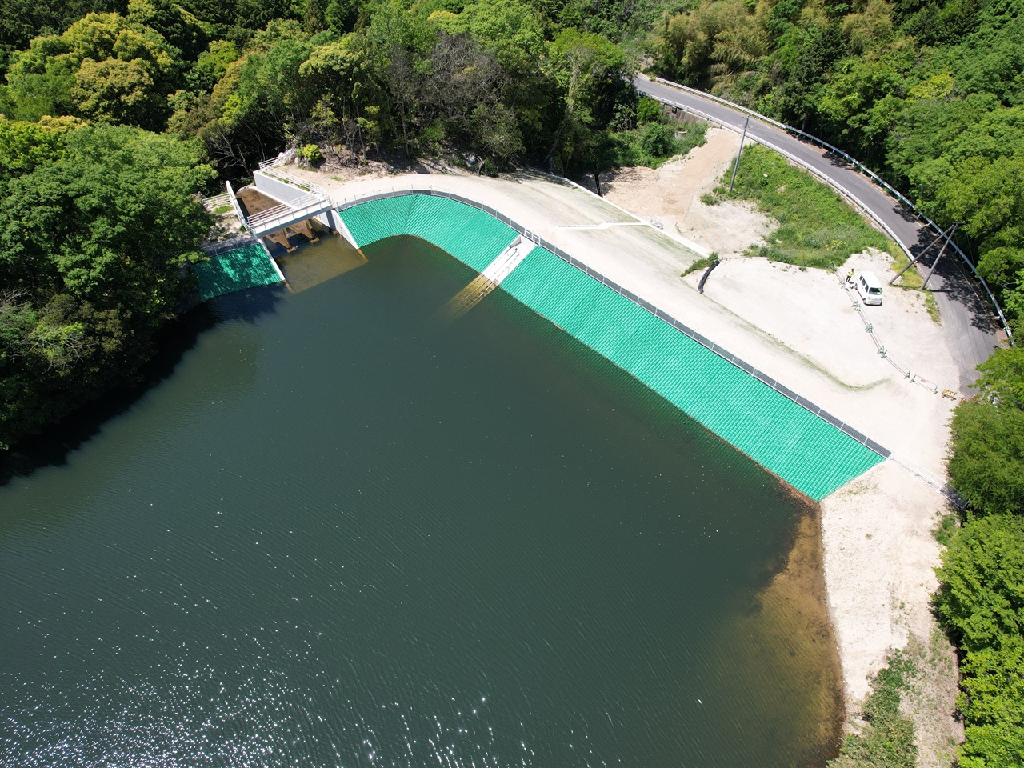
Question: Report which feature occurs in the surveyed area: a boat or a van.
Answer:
van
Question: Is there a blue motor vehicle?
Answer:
No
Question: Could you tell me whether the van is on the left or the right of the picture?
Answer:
right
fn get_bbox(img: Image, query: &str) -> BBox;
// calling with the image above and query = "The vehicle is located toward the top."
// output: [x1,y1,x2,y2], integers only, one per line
[856,268,889,303]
